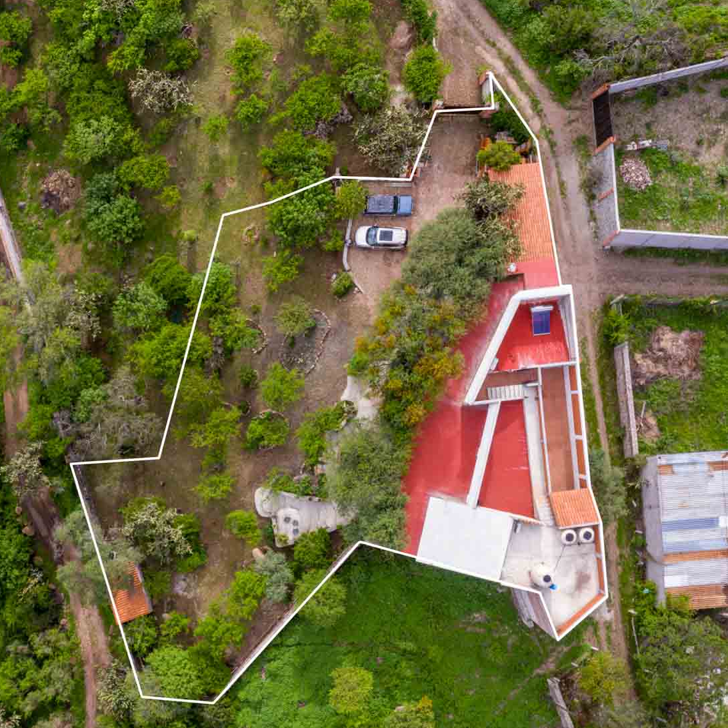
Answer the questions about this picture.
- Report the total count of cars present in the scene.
two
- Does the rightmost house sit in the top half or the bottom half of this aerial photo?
bottom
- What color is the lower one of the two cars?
white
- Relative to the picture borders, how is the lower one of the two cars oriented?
from side to side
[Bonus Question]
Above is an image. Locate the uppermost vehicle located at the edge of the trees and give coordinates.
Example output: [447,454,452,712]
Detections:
[364,192,411,218]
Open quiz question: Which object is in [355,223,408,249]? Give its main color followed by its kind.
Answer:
white car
